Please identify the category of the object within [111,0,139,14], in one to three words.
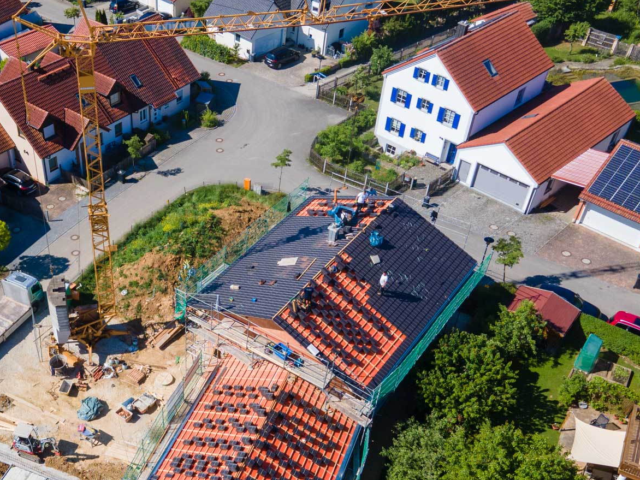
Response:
car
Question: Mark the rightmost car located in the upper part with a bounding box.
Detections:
[264,47,299,69]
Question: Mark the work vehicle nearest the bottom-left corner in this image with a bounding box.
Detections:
[12,416,71,460]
